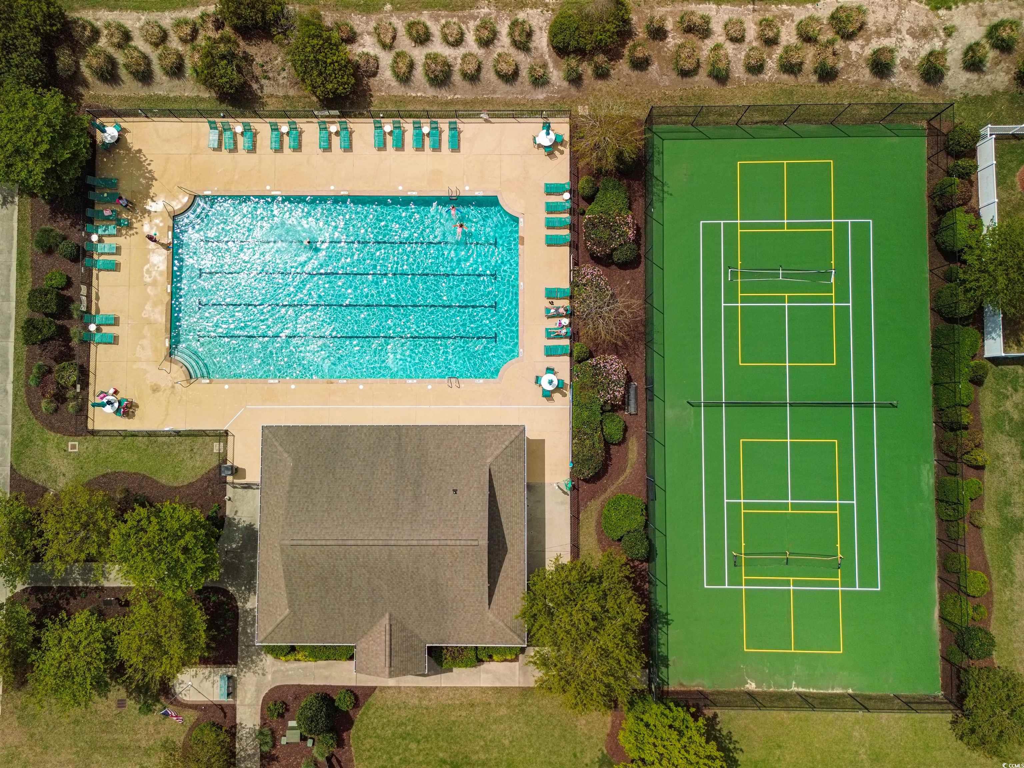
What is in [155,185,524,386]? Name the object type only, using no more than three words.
swimming pool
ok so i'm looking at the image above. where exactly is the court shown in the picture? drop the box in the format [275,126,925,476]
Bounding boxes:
[645,123,941,694]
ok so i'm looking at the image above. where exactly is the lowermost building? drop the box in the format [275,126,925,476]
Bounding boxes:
[254,422,528,680]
